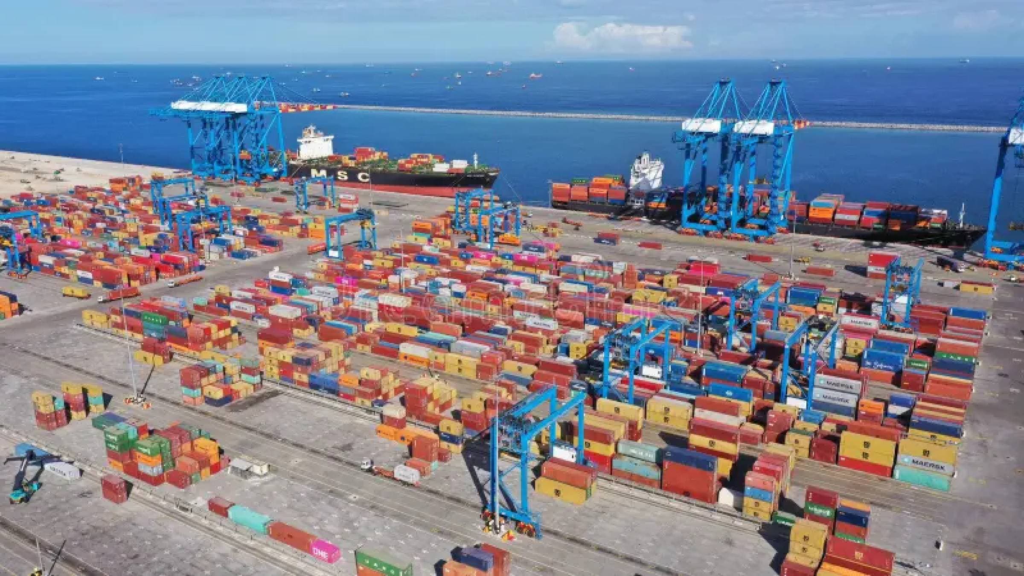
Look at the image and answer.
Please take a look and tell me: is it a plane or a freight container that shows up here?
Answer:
freight container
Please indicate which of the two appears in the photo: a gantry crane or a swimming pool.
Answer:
gantry crane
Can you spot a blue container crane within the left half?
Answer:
Yes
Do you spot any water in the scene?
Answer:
Yes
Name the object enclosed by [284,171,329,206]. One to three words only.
container crane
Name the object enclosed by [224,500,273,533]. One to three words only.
shipping container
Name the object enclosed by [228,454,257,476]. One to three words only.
shed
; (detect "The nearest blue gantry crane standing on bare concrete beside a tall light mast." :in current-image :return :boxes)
[480,375,593,523]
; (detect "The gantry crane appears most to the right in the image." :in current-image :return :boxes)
[986,116,1024,267]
